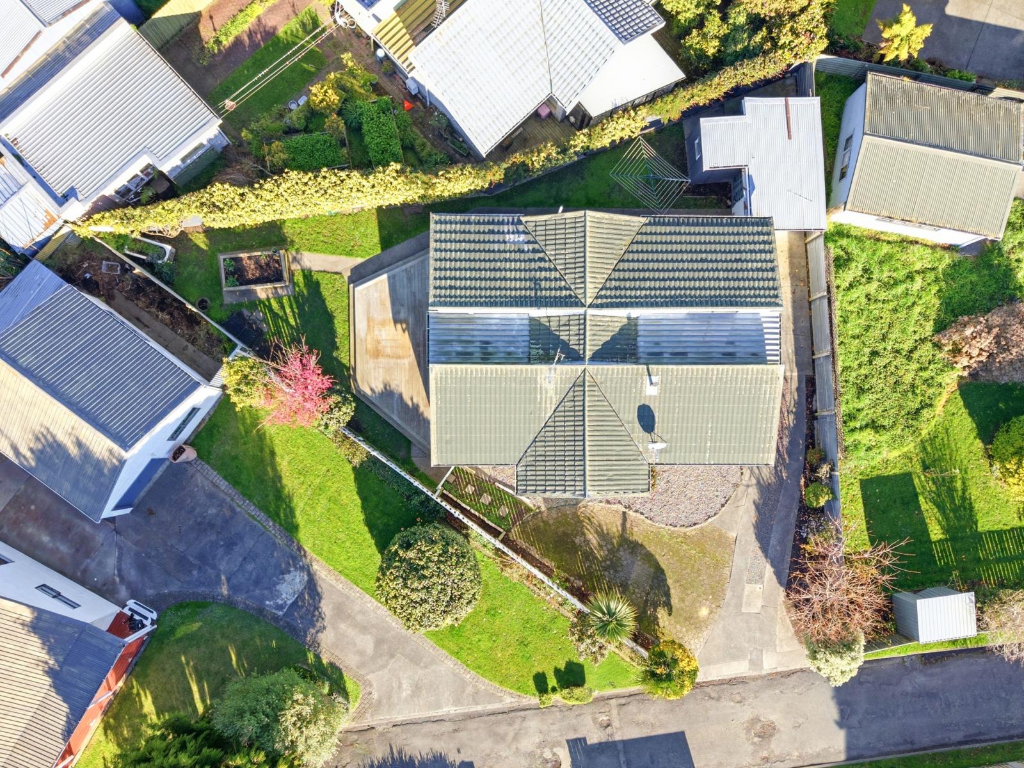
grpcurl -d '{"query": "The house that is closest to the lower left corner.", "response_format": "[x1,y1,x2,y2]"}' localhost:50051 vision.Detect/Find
[0,544,161,768]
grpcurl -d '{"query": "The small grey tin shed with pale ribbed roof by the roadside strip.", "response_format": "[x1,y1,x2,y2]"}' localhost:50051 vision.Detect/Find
[892,580,977,643]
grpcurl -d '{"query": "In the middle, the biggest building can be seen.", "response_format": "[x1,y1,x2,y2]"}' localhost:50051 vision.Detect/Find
[428,209,785,499]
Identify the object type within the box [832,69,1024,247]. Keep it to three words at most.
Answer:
house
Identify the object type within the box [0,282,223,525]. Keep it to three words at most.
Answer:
house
